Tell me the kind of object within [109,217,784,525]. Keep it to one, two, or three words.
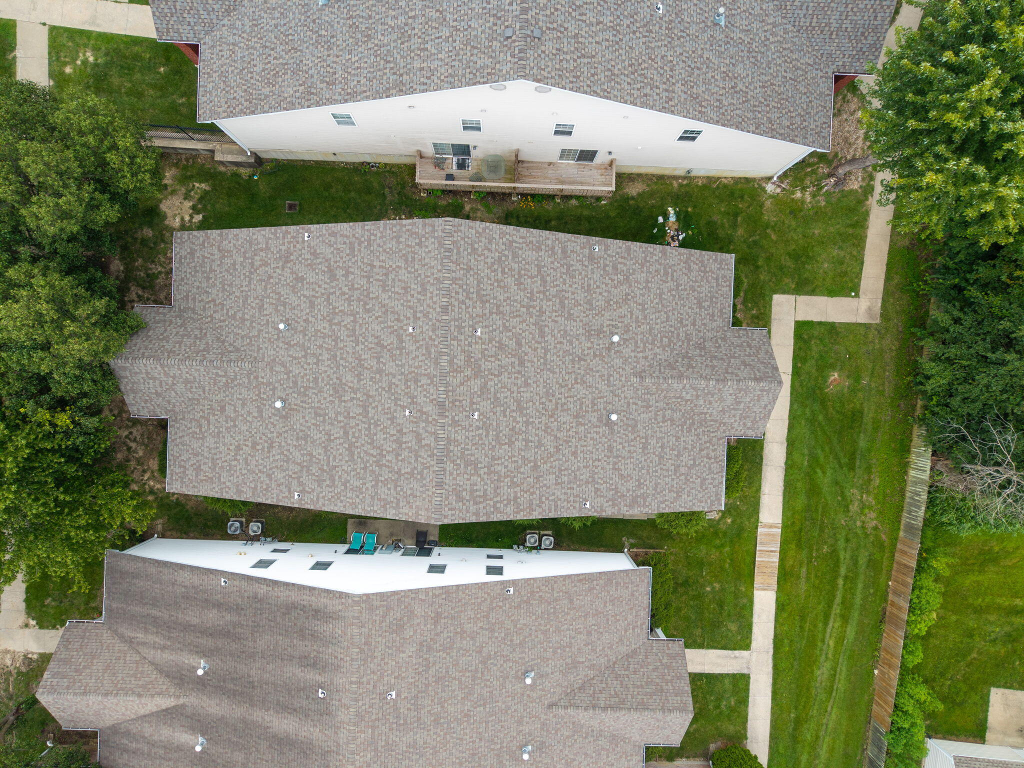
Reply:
house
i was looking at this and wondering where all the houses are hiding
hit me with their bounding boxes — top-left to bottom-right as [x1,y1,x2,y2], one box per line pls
[109,217,784,525]
[148,0,901,186]
[35,531,693,768]
[924,730,1024,768]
